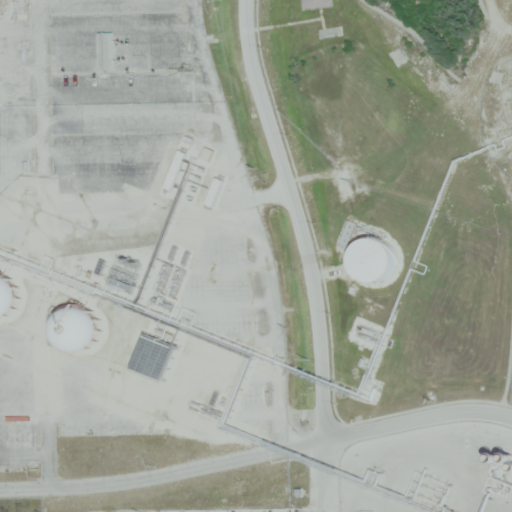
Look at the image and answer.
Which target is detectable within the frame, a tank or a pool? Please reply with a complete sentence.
Of the two, only a tank appears.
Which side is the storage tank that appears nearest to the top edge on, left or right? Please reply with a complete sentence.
The storage tank that appears nearest to the top edge appears in the right half of the scene.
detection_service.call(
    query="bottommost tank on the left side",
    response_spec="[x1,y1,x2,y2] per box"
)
[46,298,106,356]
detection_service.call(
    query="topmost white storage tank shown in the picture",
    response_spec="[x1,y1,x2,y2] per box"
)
[344,230,398,284]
